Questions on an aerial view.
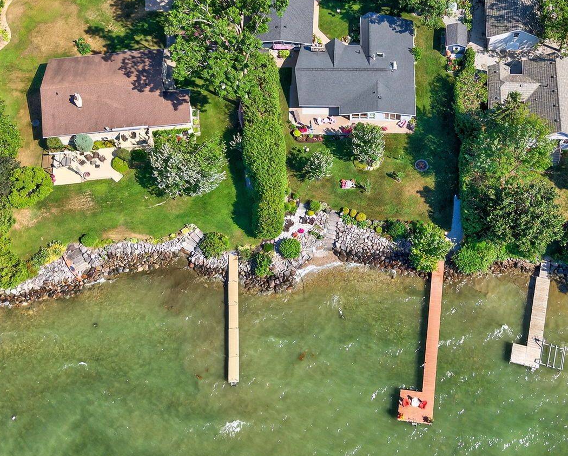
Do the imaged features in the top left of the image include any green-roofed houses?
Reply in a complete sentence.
No, I see no green-roofed house in the top left of the image.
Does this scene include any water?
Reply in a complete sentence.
Yes, water shows up in the scene.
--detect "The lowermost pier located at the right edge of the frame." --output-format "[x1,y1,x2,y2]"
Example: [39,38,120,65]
[508,277,550,369]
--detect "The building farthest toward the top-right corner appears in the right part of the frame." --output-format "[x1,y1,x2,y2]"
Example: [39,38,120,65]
[484,0,541,57]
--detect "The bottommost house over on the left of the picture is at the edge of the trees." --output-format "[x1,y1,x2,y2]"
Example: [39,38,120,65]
[39,49,194,146]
